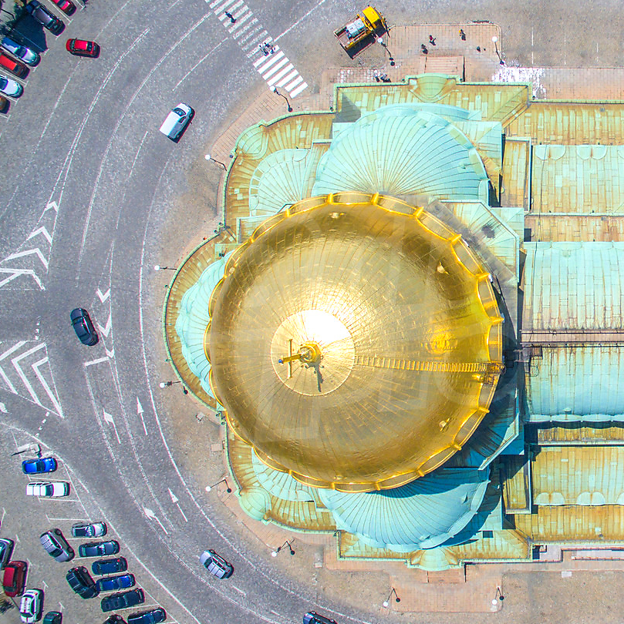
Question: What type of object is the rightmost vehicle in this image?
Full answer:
In the photo, the rightmost vehicle shows up as a truck.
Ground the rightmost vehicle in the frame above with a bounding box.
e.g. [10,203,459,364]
[335,3,390,53]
